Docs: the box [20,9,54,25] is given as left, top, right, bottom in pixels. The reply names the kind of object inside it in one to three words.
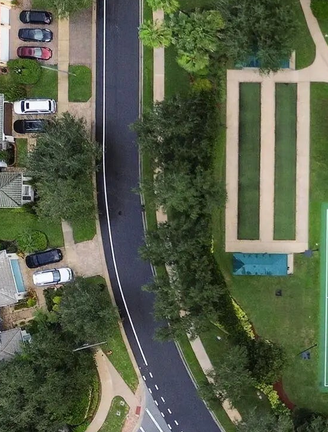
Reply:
car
